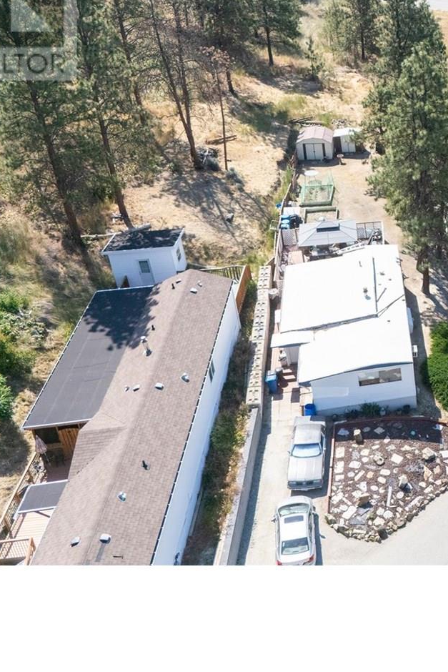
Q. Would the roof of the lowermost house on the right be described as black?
No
